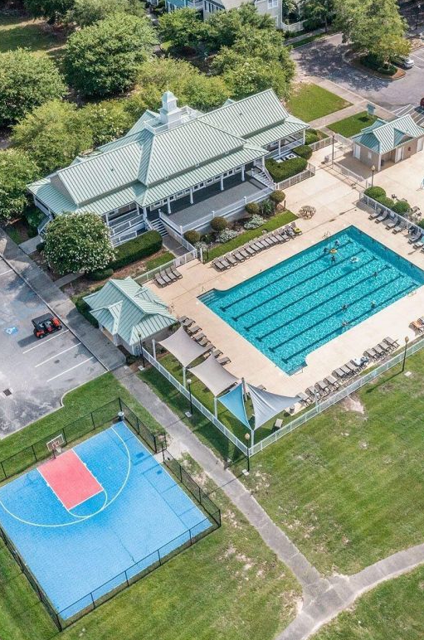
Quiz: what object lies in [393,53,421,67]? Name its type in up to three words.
car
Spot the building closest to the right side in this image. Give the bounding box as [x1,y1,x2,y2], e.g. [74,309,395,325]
[341,110,424,171]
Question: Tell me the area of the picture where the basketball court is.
bottom left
